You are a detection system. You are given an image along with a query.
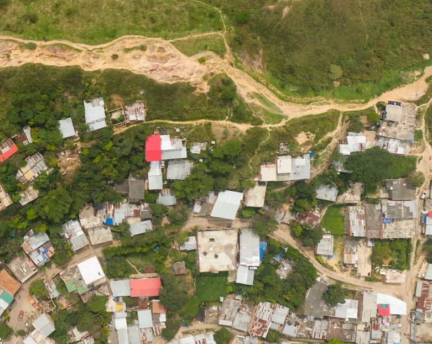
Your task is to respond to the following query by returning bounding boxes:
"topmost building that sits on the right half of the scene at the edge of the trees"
[370,101,417,141]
